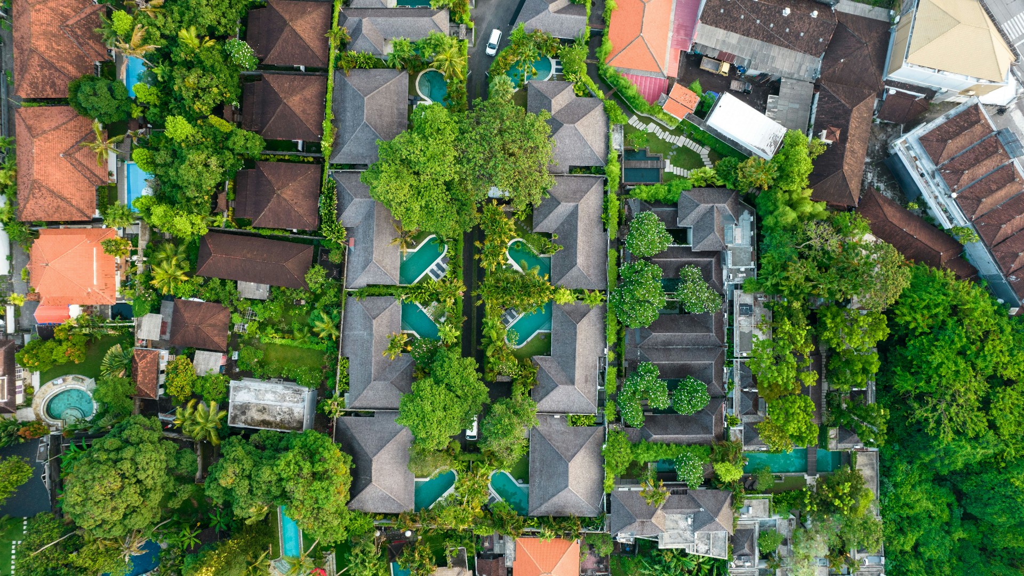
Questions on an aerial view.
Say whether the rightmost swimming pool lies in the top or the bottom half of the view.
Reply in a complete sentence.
You can find the rightmost swimming pool in the bottom half.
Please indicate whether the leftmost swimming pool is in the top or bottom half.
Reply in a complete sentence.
It is in the bottom half that the leftmost swimming pool appears.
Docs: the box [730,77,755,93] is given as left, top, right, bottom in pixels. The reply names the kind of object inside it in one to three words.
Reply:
vehicle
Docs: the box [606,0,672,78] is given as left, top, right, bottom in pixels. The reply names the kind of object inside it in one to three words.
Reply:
house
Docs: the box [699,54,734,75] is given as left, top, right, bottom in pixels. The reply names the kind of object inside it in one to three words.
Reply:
truck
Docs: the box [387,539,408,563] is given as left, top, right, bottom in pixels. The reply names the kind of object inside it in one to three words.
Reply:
shed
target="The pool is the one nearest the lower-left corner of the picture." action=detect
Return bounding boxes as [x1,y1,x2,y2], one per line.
[110,539,163,576]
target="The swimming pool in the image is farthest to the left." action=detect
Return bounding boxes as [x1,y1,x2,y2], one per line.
[43,381,96,427]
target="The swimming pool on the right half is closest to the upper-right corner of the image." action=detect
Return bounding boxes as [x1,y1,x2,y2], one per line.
[621,147,663,185]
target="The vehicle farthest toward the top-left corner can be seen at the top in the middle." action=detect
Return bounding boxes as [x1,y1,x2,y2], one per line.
[484,26,504,56]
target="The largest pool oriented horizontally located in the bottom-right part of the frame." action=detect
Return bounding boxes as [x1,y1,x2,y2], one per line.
[741,448,845,476]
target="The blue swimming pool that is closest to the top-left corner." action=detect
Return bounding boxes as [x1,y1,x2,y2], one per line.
[123,53,149,99]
